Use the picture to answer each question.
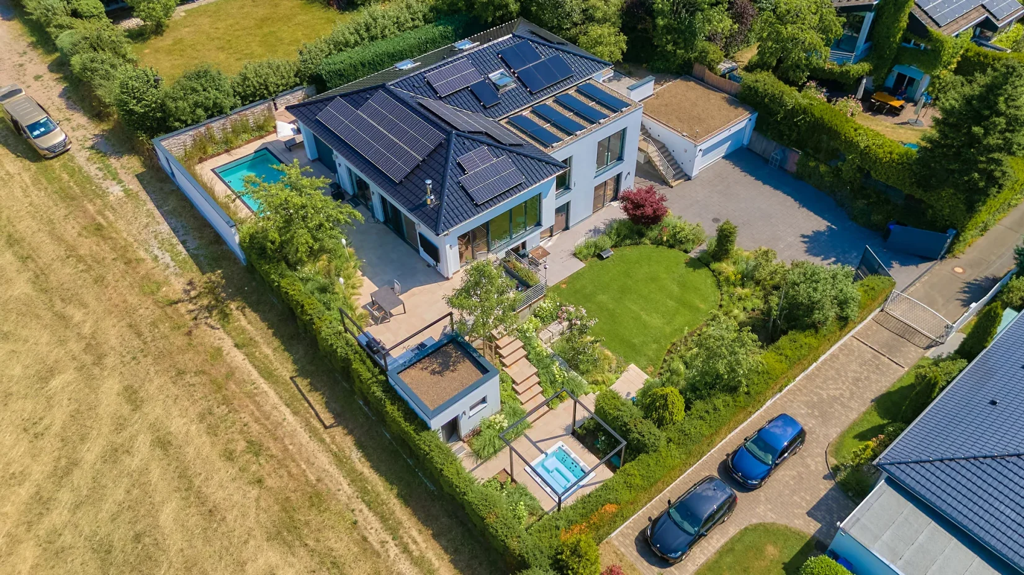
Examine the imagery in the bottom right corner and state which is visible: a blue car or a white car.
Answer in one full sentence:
The one visible in the bottom right corner is a blue car.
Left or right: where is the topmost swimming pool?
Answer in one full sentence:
The topmost swimming pool is on the left side of the image.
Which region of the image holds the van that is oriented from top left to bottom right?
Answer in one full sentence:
The van that is oriented from top left to bottom right is in the top left part of the image.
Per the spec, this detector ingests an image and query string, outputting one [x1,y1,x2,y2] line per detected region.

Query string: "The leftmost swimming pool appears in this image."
[208,145,312,217]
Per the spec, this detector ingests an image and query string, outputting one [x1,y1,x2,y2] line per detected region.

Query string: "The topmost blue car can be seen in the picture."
[718,413,810,494]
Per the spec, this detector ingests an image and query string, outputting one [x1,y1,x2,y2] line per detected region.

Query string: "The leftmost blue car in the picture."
[642,474,741,566]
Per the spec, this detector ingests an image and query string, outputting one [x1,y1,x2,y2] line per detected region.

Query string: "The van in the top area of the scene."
[0,95,71,164]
